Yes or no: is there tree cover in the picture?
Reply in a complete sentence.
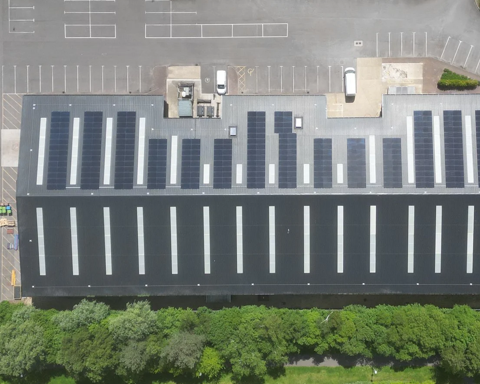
Yes, there's tree cover in this view.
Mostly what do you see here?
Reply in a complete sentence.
Most of the picture is covered by buildings.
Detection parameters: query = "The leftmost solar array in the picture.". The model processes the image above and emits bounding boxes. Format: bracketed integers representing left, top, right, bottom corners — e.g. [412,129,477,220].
[47,111,69,190]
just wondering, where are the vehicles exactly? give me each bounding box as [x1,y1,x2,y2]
[344,68,356,97]
[215,70,227,94]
